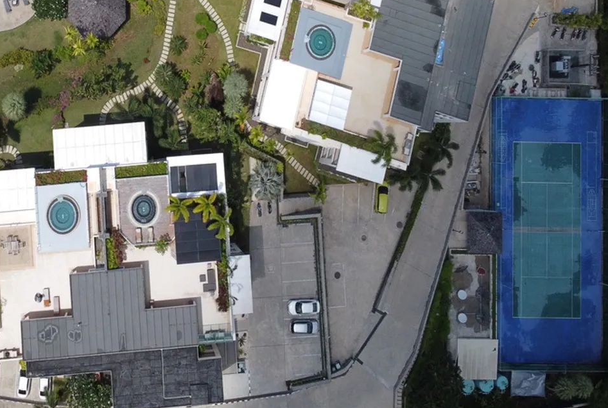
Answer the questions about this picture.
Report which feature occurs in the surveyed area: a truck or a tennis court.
tennis court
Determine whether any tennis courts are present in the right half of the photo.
Yes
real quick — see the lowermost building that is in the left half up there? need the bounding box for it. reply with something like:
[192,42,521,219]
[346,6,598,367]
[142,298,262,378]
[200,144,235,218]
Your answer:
[0,122,253,408]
